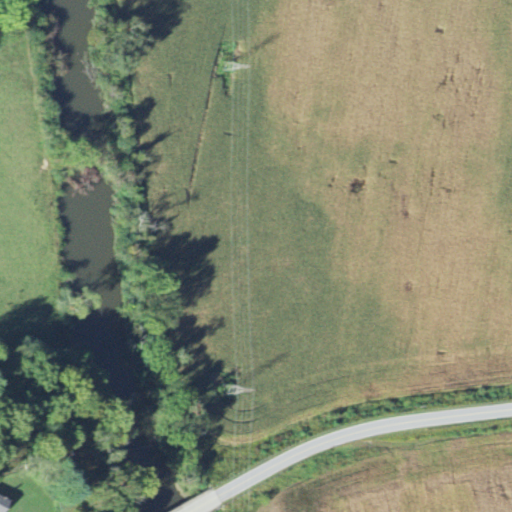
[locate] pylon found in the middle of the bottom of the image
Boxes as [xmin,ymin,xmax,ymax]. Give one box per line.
[226,384,250,398]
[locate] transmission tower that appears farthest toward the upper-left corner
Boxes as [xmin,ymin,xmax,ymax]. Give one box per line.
[224,60,248,72]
